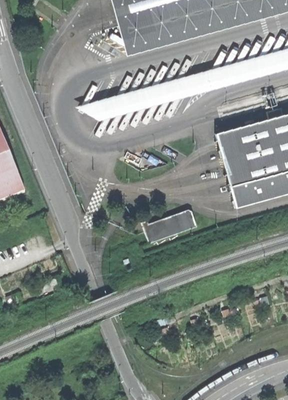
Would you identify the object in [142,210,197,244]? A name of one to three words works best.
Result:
building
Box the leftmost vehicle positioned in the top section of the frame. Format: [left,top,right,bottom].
[79,81,98,107]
